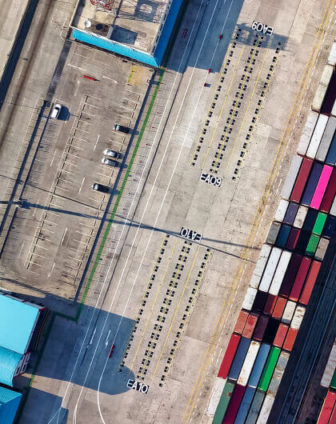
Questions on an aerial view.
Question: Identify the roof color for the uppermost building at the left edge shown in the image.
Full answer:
From above, the roof of the uppermost building at the left edge looks blue.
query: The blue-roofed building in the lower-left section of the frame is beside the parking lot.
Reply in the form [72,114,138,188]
[0,281,56,383]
